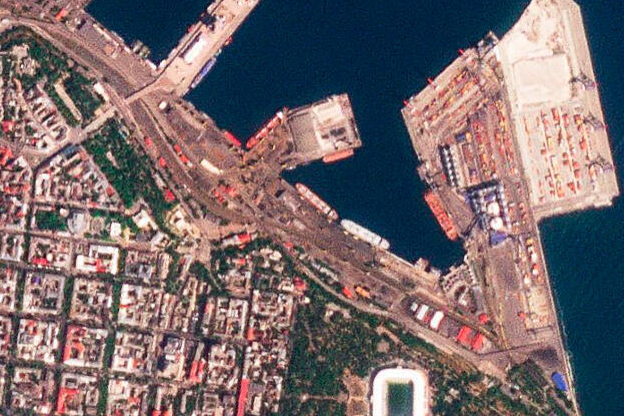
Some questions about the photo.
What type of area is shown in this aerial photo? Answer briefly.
port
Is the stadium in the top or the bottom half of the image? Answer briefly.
bottom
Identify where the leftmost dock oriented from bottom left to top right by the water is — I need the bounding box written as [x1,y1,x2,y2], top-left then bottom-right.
[150,0,254,97]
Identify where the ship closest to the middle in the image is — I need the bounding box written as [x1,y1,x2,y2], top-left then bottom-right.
[298,185,339,221]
